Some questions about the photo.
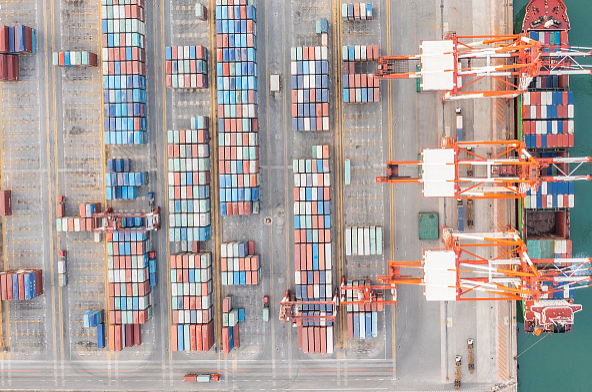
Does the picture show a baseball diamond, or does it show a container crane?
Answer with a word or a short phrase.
container crane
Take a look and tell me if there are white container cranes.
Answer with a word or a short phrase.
Yes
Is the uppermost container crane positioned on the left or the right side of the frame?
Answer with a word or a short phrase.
right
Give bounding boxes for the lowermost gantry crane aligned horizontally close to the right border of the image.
[376,221,592,304]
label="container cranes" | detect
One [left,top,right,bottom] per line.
[376,221,592,304]
[279,285,341,321]
[337,272,399,307]
[374,133,592,201]
[364,25,592,109]
[90,203,163,234]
